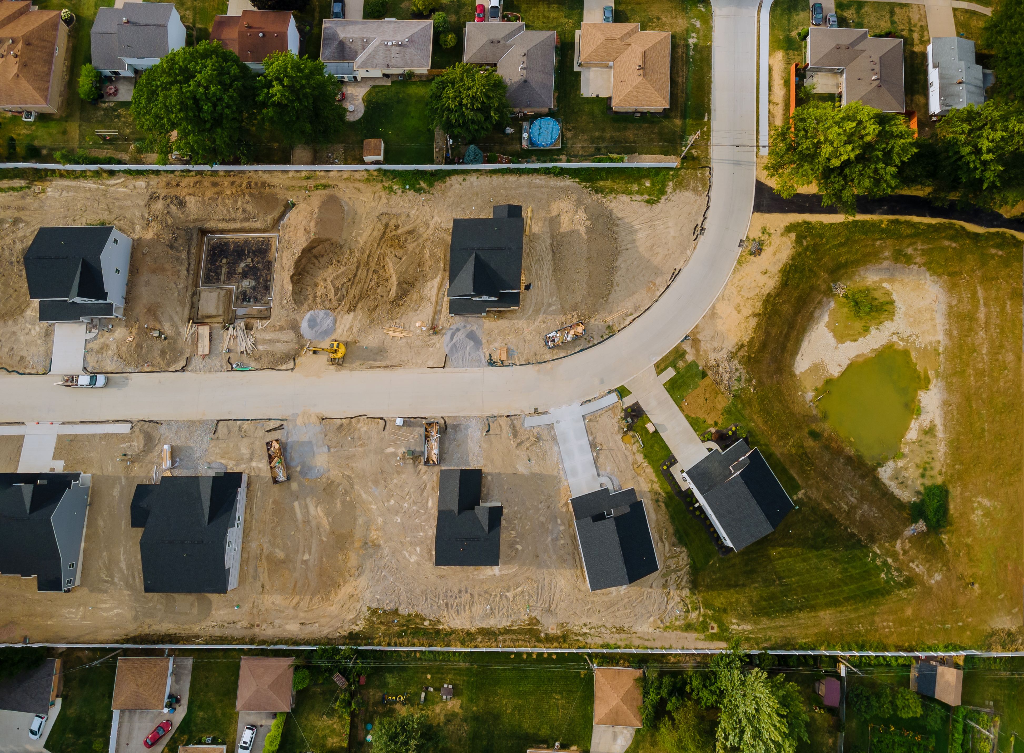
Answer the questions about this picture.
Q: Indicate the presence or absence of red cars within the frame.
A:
Yes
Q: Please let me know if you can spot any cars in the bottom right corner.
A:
No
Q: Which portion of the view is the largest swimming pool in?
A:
top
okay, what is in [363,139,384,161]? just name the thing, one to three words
shed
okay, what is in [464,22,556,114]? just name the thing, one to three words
house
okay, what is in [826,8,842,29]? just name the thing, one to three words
car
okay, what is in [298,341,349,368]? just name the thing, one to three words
work vehicle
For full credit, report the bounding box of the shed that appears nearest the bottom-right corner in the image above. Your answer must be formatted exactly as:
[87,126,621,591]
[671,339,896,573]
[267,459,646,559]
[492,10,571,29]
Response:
[906,659,963,706]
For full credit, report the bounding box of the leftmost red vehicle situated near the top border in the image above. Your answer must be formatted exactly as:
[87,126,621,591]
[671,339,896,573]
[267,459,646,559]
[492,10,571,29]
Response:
[473,1,486,23]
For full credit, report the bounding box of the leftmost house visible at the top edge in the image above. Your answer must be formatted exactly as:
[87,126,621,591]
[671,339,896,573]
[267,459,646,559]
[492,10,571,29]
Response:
[0,1,71,113]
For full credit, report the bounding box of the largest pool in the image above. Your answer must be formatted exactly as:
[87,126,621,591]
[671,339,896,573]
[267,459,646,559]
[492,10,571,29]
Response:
[530,114,560,146]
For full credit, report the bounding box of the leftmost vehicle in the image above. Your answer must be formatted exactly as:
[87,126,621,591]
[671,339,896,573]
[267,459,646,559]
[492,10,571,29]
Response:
[25,713,47,744]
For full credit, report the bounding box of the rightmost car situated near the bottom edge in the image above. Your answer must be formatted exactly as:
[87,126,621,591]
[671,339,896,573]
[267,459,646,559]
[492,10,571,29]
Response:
[235,724,256,753]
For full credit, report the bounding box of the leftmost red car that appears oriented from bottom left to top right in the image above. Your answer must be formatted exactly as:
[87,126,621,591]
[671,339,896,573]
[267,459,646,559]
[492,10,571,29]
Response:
[145,722,174,751]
